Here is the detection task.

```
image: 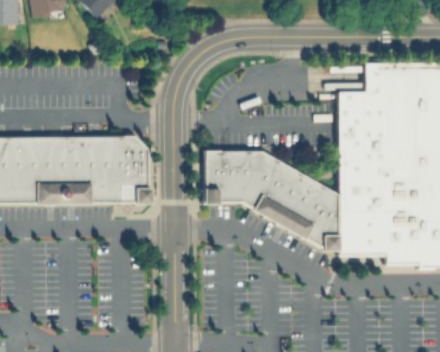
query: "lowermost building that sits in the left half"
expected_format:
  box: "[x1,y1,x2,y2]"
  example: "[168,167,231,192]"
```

[0,136,153,204]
